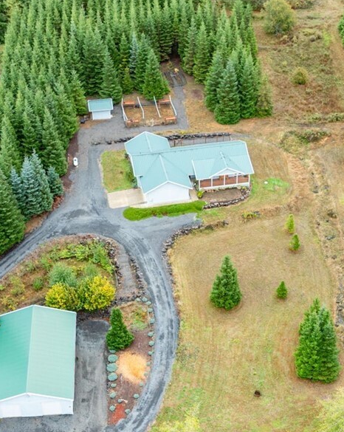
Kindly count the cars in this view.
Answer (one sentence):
The count of cars is 0.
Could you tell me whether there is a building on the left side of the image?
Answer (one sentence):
Yes, a building shows up on the left side of the image.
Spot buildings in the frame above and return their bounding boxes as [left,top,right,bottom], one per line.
[88,97,113,120]
[0,304,77,418]
[126,132,254,203]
